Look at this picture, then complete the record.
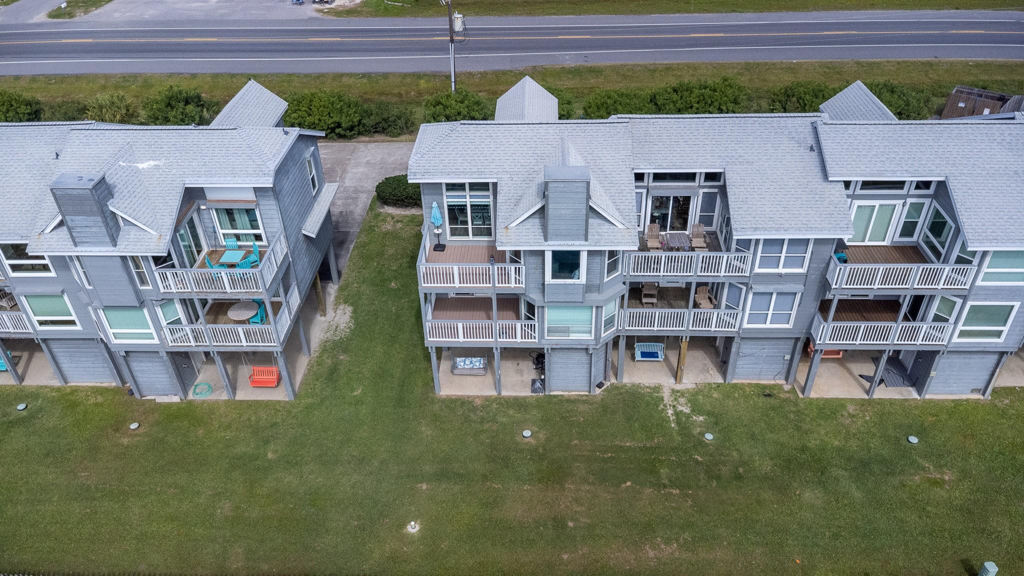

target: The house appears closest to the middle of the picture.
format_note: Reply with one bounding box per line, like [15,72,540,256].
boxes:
[407,75,637,394]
